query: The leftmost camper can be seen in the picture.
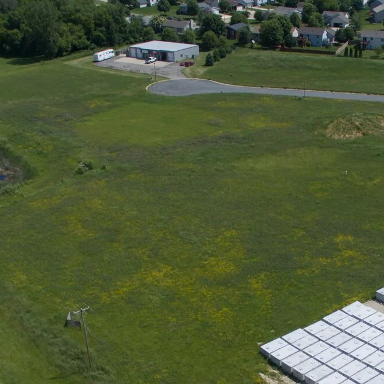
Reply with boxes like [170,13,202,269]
[91,48,115,61]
